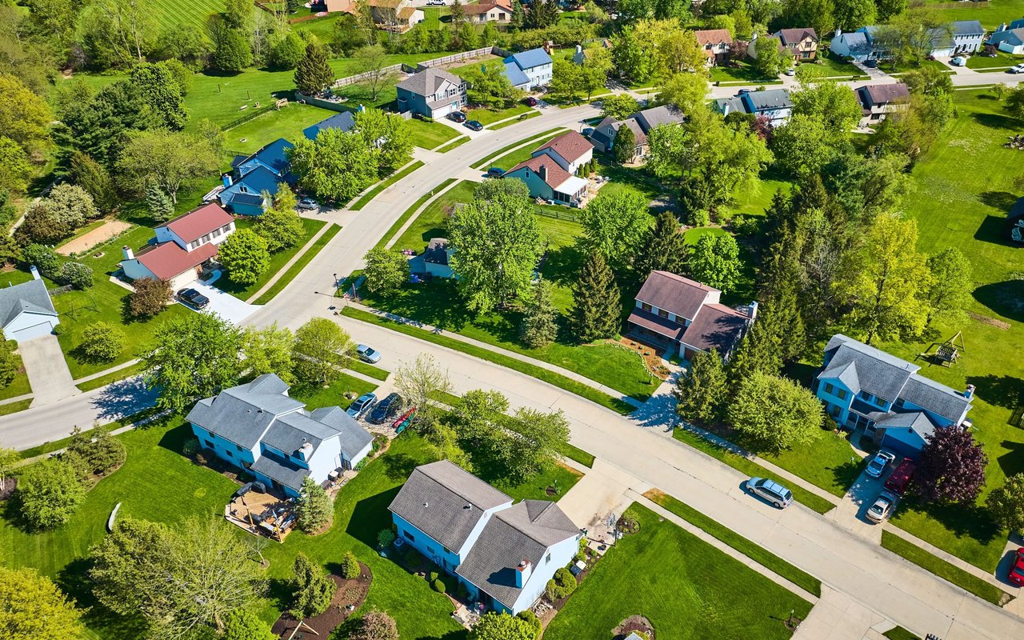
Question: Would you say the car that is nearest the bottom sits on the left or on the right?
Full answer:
The car that is nearest the bottom appears in the right half of the scene.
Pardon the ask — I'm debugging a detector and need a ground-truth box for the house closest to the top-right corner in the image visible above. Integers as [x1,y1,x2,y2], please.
[981,13,1024,57]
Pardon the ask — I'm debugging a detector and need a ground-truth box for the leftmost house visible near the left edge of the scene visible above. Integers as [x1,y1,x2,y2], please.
[0,266,62,344]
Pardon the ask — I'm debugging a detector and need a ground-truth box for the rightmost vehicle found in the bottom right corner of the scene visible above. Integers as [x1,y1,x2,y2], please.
[1002,546,1024,585]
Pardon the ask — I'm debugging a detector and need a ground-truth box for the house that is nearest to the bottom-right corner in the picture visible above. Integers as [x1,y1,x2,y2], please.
[809,334,974,456]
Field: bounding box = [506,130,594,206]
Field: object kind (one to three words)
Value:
house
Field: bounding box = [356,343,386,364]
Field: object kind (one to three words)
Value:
car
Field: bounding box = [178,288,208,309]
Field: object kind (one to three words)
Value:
truck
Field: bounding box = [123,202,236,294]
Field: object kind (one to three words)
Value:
house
